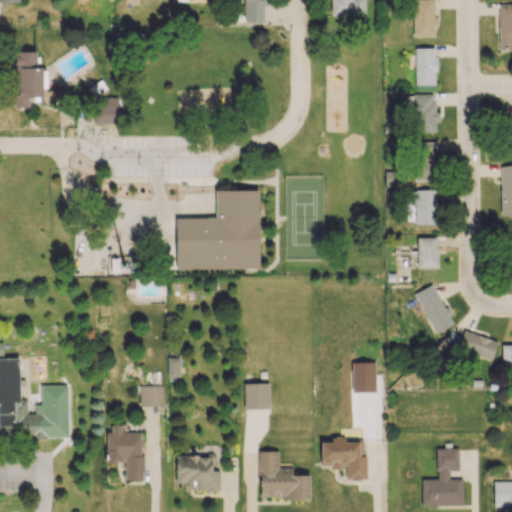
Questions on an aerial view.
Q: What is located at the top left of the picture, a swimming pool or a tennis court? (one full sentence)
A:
There is a swimming pool at the top left of the picture.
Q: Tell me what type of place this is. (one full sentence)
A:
This looks like a residential area.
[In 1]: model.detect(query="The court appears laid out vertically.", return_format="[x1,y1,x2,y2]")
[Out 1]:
[286,175,324,262]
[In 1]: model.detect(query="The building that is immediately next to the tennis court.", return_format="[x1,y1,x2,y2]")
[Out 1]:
[176,190,262,270]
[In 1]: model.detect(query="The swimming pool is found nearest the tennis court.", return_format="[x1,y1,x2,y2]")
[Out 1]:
[127,278,167,304]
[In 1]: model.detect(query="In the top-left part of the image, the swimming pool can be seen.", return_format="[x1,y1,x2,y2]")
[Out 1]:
[47,46,96,86]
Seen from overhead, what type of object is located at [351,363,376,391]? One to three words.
building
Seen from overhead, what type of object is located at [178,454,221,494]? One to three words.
house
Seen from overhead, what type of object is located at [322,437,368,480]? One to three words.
house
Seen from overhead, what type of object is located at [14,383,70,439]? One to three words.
building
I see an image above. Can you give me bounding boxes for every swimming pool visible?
[127,278,167,304]
[47,46,96,86]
